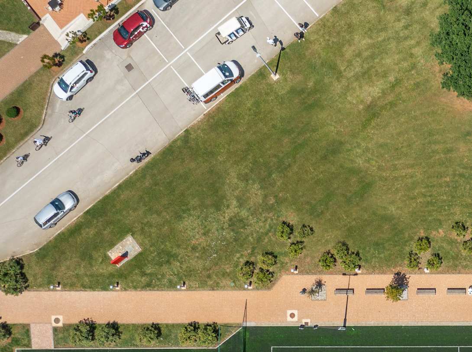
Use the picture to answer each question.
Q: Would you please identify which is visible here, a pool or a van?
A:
van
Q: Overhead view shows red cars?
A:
Yes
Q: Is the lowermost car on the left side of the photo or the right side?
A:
left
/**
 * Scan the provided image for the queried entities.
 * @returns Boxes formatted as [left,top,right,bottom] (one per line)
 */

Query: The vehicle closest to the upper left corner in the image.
[51,59,99,102]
